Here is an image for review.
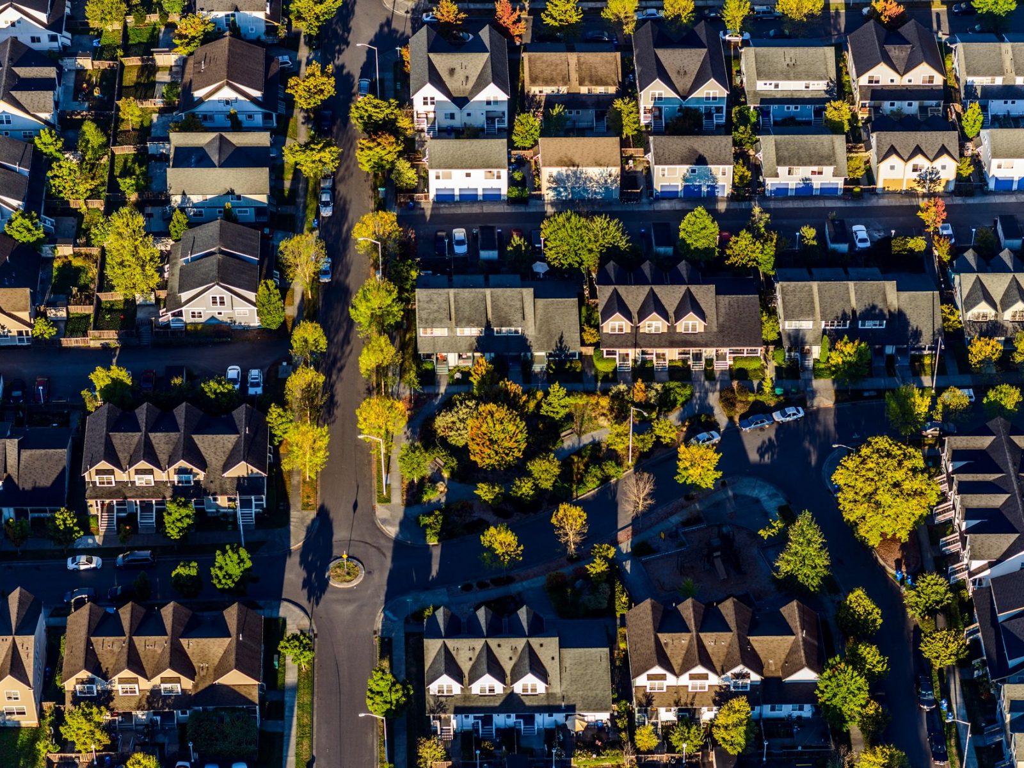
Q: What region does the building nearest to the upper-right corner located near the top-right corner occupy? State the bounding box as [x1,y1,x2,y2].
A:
[948,33,1024,123]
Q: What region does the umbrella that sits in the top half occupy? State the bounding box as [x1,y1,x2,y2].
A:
[532,262,549,281]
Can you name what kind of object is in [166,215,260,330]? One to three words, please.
house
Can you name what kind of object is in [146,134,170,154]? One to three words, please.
shed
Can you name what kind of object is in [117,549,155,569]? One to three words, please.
vehicle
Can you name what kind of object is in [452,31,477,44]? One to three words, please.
vehicle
